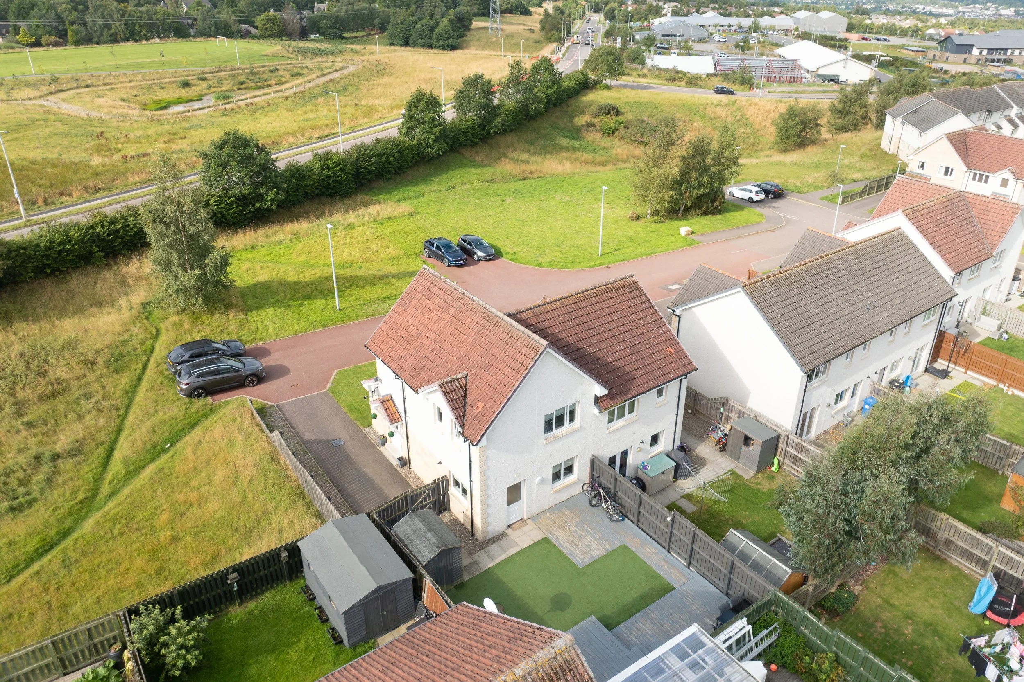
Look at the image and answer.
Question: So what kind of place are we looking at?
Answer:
residential area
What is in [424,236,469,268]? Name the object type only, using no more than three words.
car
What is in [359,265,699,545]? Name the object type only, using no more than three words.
house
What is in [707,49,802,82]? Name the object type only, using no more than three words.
building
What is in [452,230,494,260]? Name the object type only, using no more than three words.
car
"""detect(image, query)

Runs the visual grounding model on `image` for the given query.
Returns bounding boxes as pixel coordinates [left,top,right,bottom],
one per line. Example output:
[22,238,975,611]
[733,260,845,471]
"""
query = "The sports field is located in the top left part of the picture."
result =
[0,42,297,76]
